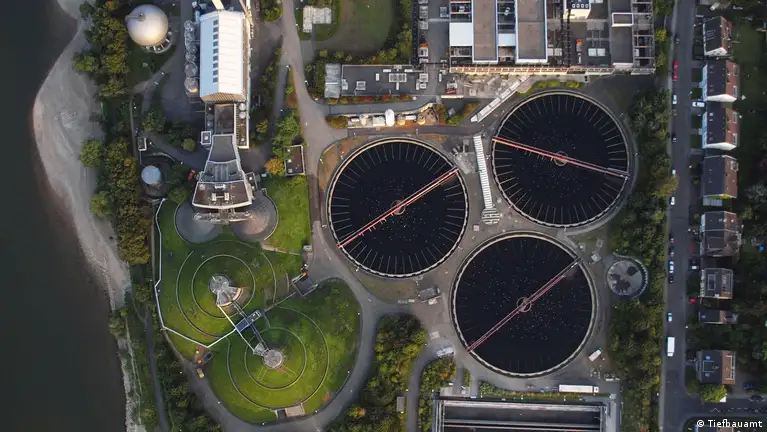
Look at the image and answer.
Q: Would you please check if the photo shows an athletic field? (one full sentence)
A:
No, no athletic field can be seen from above.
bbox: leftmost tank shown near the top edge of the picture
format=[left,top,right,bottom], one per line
[125,4,170,51]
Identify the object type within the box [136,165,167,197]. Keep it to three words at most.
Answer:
storage tank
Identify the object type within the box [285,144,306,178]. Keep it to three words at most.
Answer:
building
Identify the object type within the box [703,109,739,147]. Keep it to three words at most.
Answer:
house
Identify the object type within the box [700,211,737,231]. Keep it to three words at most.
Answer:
house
